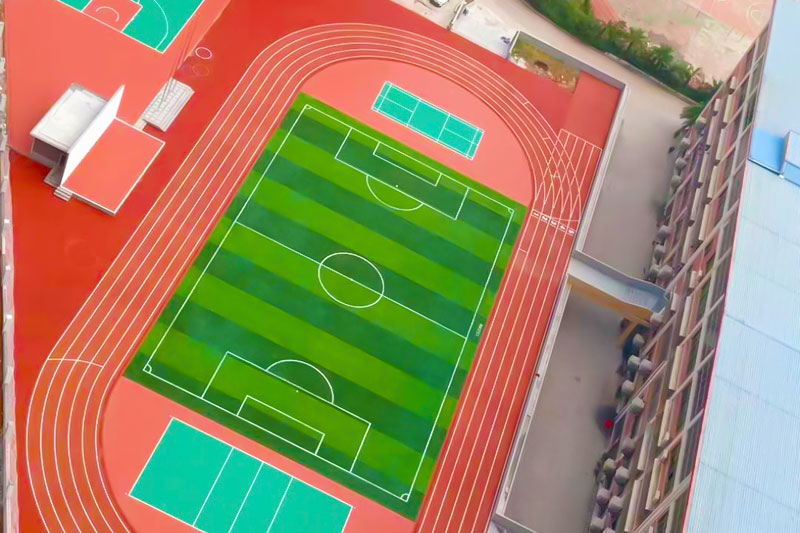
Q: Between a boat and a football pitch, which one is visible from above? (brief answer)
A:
football pitch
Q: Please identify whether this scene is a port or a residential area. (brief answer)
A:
residential area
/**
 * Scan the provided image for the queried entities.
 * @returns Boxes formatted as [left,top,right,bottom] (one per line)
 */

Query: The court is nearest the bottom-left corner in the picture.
[125,413,357,533]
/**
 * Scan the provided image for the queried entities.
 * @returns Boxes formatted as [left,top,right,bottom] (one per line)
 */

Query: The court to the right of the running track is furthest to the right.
[681,0,772,39]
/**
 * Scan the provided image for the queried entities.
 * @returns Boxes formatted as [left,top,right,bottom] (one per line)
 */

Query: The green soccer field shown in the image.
[123,91,527,521]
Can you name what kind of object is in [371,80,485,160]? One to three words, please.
sports court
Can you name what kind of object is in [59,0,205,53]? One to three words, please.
basketball court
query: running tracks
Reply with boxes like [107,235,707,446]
[26,23,602,533]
